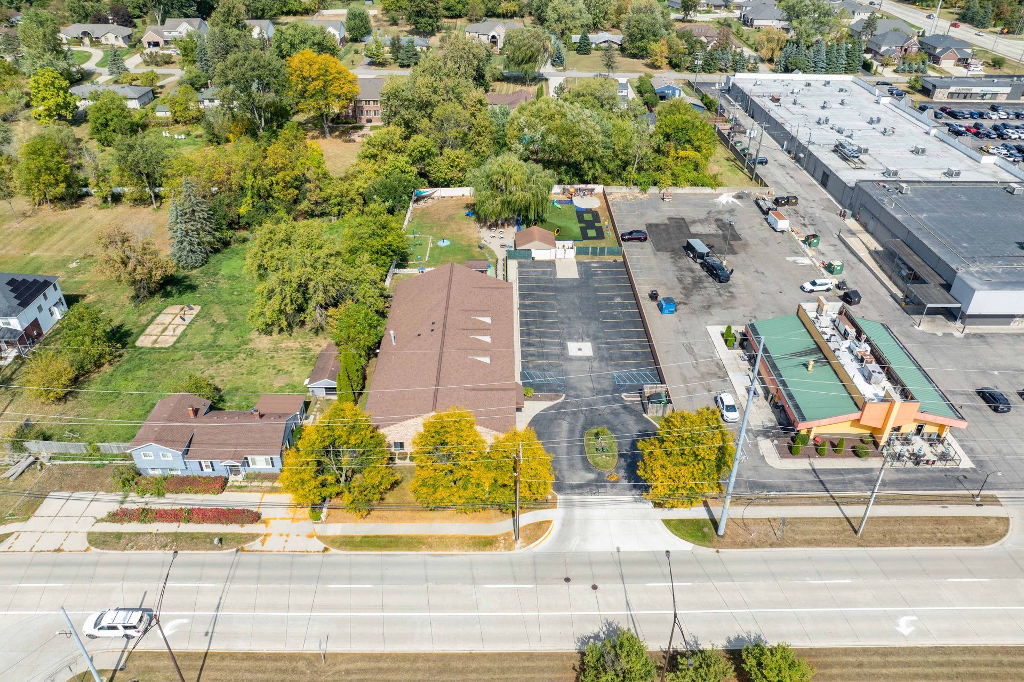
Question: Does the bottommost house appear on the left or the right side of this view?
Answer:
left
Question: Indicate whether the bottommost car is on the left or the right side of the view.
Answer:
left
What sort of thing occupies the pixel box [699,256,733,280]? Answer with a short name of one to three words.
truck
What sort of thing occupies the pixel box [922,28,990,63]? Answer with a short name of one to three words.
house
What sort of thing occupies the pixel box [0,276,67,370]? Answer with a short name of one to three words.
house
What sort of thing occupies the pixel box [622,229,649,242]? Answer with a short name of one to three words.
vehicle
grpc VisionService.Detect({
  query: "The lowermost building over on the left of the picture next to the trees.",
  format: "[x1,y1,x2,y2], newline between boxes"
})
[127,382,305,481]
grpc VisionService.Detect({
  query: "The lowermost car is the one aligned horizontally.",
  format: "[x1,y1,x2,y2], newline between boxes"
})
[84,611,150,642]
